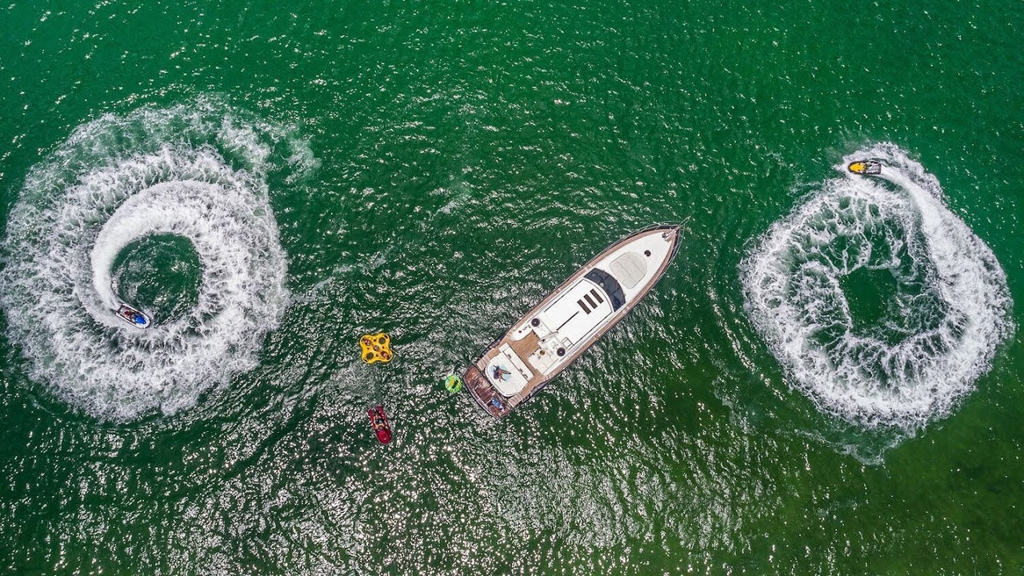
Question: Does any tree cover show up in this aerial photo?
No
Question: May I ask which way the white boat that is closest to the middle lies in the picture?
at an angle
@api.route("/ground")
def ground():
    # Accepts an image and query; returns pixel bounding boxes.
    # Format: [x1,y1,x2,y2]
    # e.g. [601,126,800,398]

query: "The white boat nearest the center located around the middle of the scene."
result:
[463,215,692,418]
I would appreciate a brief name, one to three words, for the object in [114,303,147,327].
boat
